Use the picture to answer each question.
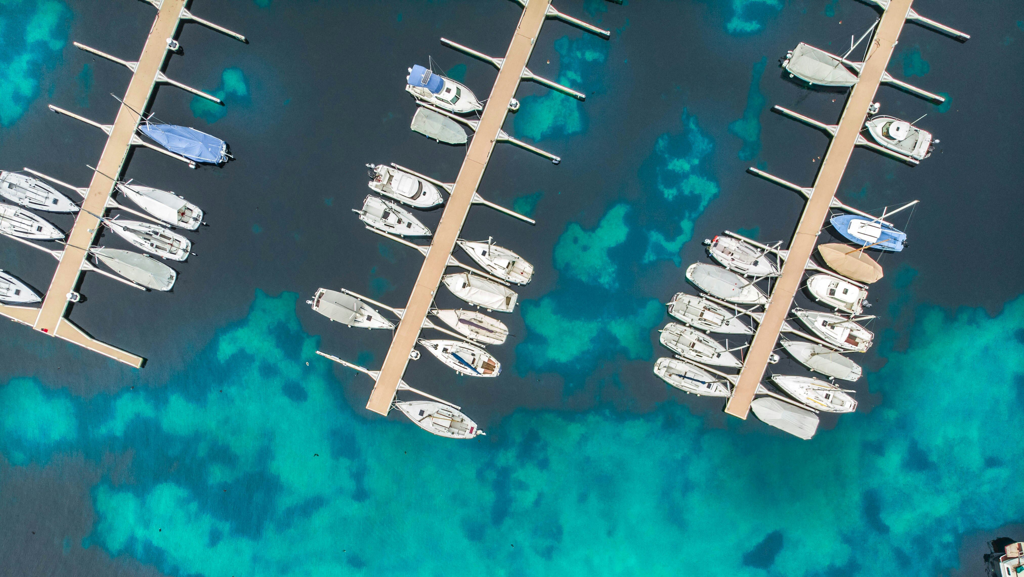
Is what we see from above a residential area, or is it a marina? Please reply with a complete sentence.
What you see here is a marina.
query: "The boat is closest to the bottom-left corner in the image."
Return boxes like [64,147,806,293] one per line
[0,270,48,314]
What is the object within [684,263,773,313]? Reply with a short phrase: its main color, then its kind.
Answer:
white boat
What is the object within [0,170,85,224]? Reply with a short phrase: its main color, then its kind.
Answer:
white boat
